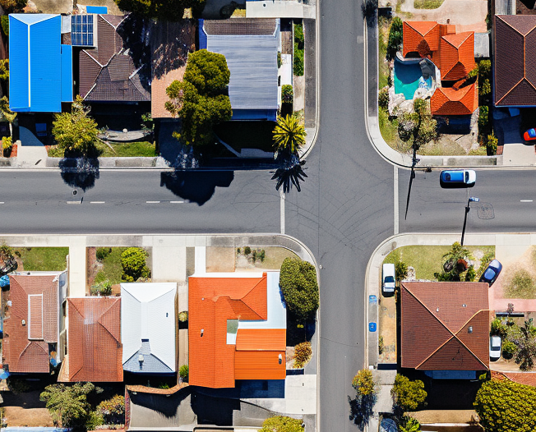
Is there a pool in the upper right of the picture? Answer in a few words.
Yes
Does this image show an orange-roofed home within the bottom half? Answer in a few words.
Yes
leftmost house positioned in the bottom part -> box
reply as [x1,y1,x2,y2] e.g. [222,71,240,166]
[1,275,63,373]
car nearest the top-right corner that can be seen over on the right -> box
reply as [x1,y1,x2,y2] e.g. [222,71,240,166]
[521,126,536,142]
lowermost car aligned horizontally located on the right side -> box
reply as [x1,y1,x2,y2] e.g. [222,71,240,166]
[440,169,475,186]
